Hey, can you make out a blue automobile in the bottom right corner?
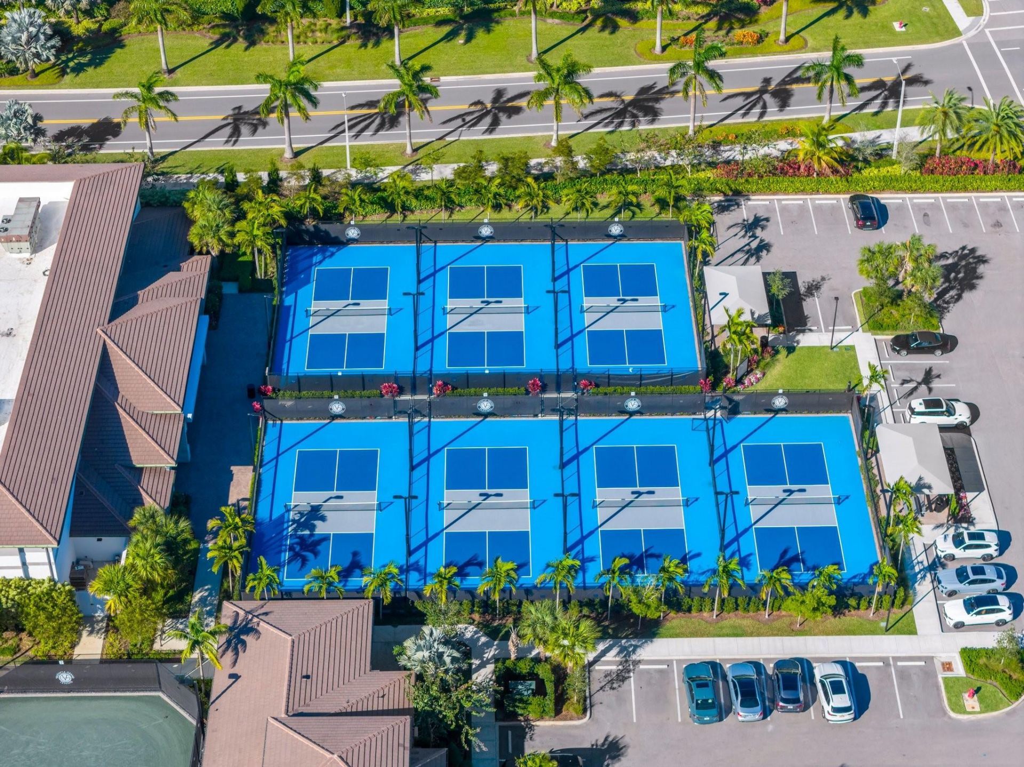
Yes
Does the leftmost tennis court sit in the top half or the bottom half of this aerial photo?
bottom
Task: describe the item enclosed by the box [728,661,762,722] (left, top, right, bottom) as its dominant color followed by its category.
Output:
blue car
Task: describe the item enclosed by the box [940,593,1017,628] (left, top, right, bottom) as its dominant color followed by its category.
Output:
white car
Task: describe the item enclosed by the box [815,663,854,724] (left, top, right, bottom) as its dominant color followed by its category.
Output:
white car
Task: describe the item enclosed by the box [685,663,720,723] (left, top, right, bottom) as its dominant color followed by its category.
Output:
blue car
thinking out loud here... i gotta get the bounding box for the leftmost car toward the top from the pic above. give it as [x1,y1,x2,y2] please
[848,193,877,230]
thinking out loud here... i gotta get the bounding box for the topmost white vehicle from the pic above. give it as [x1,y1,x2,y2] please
[907,398,975,430]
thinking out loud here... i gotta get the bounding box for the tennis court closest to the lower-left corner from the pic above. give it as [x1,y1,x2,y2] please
[0,691,202,767]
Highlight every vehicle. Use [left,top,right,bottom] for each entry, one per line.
[934,563,1007,597]
[932,529,1003,562]
[526,751,600,767]
[685,663,720,723]
[940,593,1017,628]
[848,193,877,230]
[907,398,975,430]
[815,663,854,724]
[728,661,762,722]
[767,653,803,712]
[887,329,951,357]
